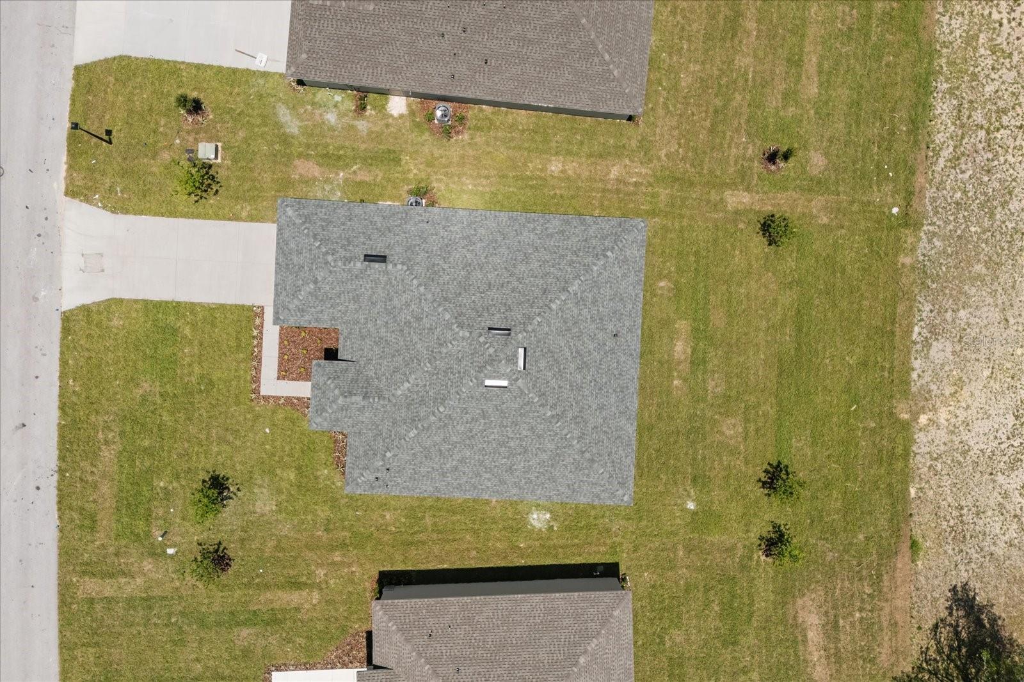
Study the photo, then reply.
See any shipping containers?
No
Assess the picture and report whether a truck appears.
No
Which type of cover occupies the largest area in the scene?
grass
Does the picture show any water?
No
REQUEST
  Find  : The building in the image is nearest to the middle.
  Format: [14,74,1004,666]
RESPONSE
[272,197,649,507]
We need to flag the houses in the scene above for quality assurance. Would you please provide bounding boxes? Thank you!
[272,197,649,507]
[285,0,654,121]
[355,578,633,682]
